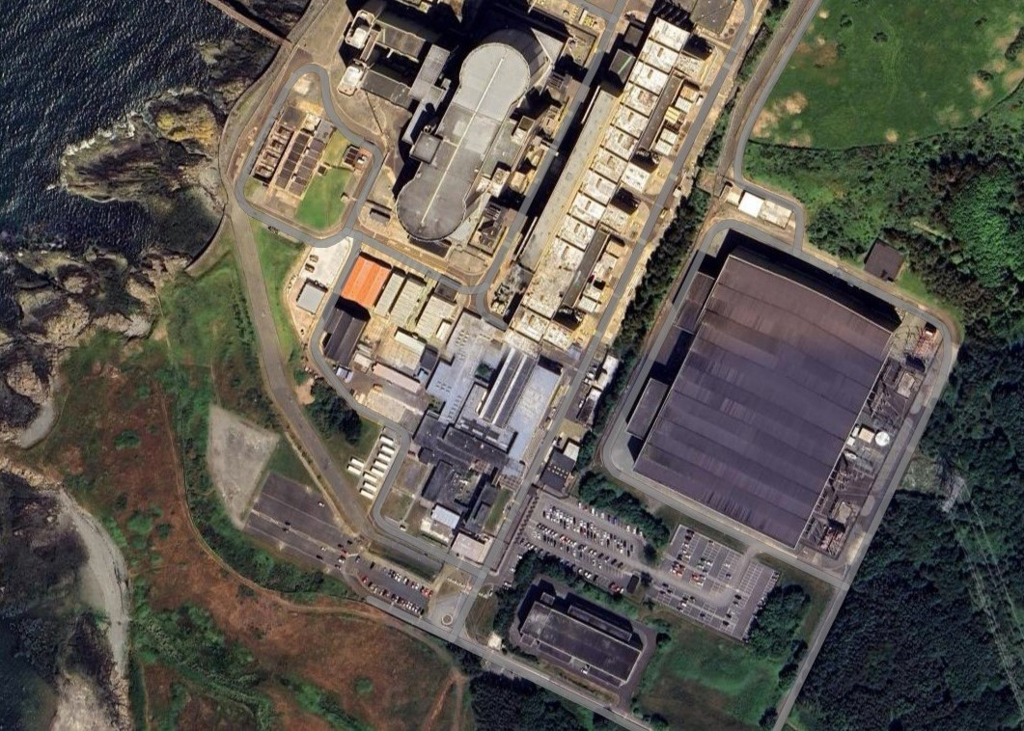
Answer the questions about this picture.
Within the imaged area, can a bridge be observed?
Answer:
No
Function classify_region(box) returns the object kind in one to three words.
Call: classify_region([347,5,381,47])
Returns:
house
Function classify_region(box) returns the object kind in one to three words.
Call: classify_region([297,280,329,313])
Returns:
shed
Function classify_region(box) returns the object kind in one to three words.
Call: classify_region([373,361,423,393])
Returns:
building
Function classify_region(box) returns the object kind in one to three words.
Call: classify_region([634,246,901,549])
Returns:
building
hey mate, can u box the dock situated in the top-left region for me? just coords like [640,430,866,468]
[195,0,294,47]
